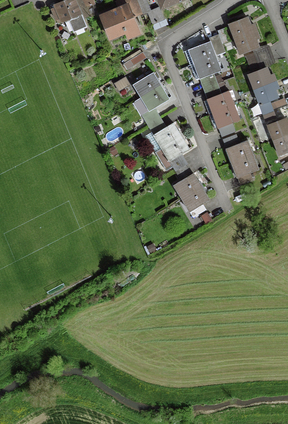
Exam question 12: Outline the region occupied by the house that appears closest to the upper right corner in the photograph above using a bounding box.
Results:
[228,16,260,65]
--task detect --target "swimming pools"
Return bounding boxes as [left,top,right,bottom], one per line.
[106,128,123,142]
[134,170,145,182]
